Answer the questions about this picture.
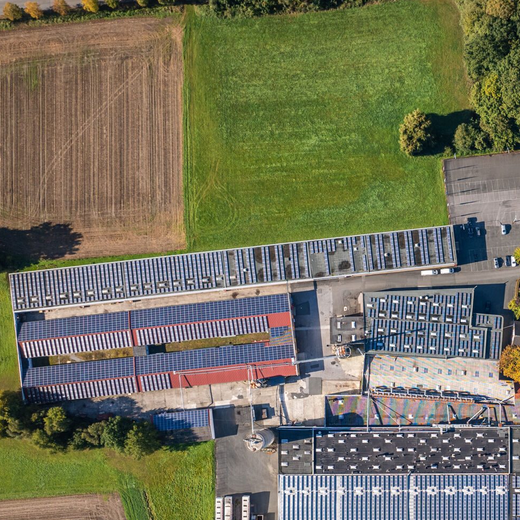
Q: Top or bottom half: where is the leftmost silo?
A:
bottom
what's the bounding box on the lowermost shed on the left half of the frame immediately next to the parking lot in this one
[24,341,299,403]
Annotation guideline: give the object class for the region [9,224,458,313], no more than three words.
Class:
building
